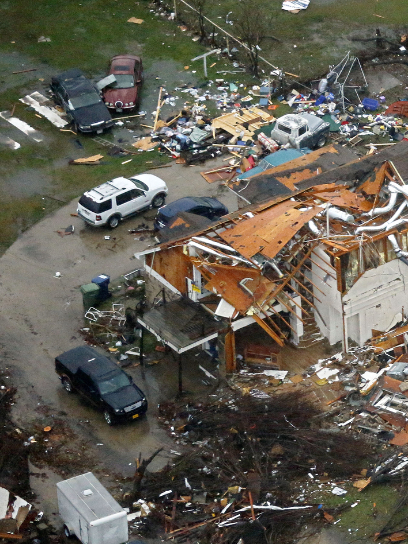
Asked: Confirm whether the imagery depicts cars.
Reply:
Yes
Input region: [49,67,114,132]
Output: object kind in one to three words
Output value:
car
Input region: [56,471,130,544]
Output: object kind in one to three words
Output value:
trailer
